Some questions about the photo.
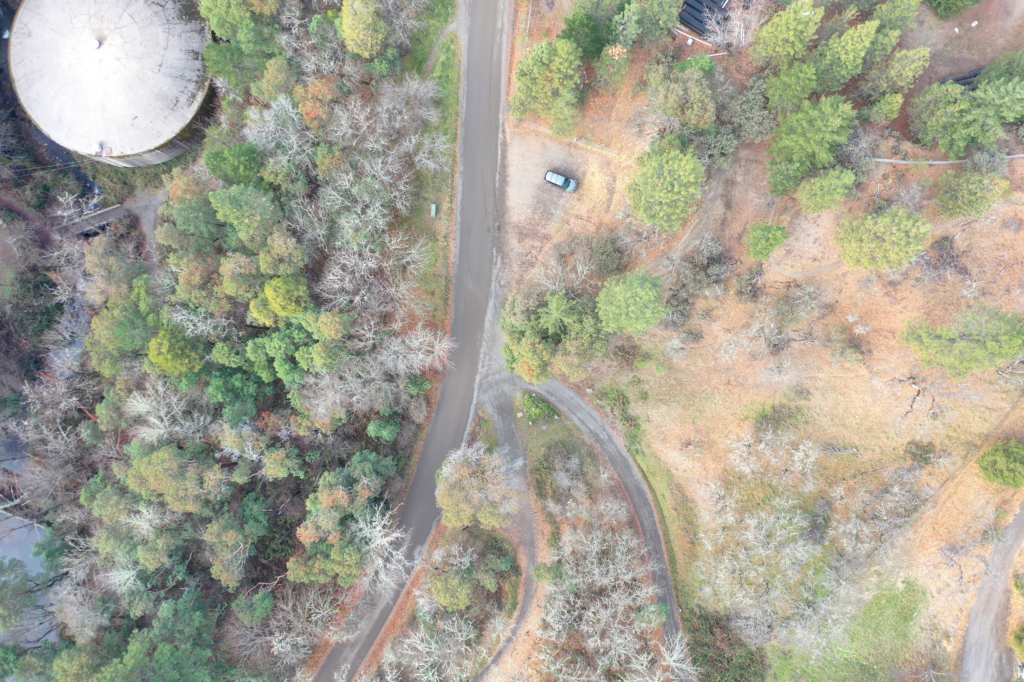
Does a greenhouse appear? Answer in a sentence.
No, there isn't any greenhouse down there.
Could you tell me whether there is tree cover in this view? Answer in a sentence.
Yes, there is tree cover in the image.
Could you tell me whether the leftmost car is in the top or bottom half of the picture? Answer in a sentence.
The top half of the photo is where the leftmost car is.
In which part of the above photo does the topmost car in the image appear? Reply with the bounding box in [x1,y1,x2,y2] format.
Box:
[543,168,578,191]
